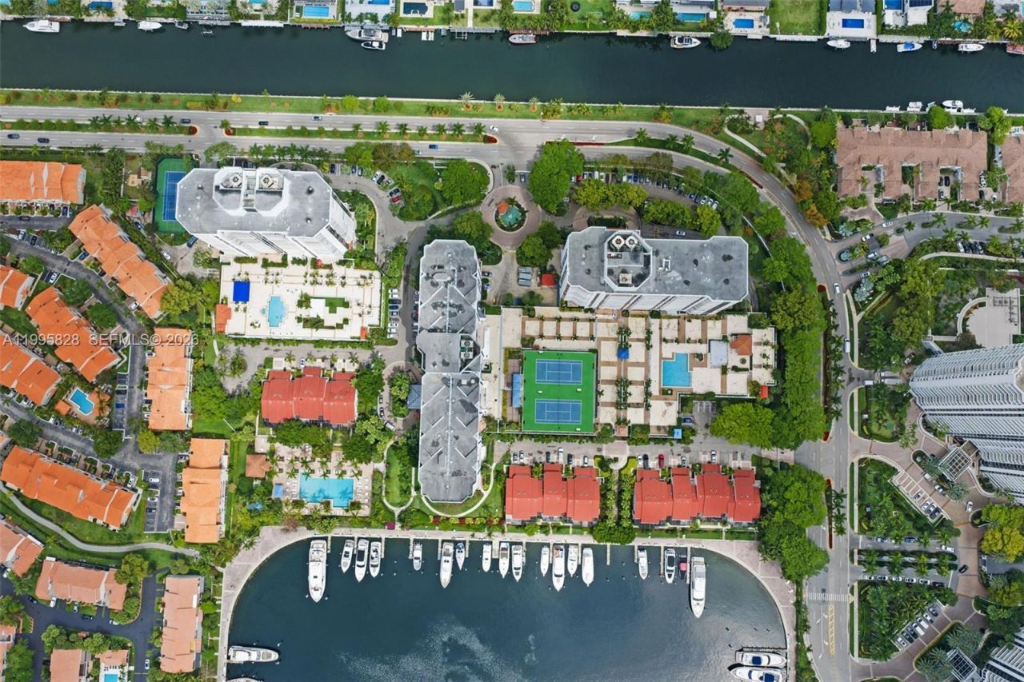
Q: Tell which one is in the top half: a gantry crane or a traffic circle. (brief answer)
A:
traffic circle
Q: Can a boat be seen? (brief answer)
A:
Yes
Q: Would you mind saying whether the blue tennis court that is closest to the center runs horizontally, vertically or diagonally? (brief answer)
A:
horizontally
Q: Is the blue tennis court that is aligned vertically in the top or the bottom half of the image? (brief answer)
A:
top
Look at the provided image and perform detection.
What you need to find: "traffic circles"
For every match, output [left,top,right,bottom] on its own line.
[480,187,541,247]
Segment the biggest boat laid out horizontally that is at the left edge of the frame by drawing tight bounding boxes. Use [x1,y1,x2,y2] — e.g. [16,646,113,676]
[21,20,62,32]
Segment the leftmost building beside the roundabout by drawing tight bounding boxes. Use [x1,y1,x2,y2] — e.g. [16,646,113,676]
[415,239,484,374]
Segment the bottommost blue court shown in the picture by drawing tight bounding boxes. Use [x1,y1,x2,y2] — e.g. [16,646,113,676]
[535,399,581,425]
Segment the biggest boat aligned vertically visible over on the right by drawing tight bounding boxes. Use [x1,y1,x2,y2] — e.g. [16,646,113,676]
[691,556,706,620]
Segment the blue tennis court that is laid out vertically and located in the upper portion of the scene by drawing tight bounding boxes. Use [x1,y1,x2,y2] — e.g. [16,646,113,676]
[163,171,188,221]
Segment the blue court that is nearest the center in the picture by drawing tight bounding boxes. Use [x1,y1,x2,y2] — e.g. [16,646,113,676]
[536,360,582,384]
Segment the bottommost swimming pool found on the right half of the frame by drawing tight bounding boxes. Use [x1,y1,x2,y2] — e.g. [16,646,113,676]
[662,353,693,387]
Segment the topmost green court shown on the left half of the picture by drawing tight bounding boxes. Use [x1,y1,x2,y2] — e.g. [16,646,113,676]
[155,156,195,232]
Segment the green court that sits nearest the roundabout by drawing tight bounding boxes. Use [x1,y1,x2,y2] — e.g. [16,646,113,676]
[522,350,598,434]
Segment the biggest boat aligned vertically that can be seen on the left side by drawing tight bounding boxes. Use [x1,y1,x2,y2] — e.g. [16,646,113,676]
[308,540,326,604]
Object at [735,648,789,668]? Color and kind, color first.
white boat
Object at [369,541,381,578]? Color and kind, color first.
white boat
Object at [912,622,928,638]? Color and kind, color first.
white vehicle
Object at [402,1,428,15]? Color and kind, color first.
blue swimming pool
